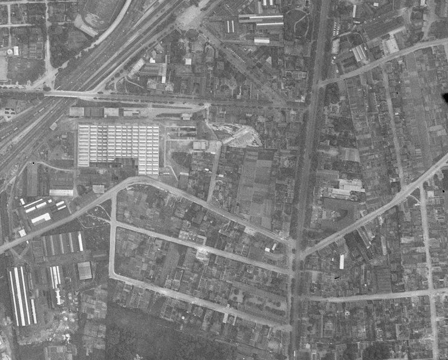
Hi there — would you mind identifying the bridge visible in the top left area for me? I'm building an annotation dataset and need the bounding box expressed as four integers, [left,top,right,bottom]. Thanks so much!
[48,89,112,101]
